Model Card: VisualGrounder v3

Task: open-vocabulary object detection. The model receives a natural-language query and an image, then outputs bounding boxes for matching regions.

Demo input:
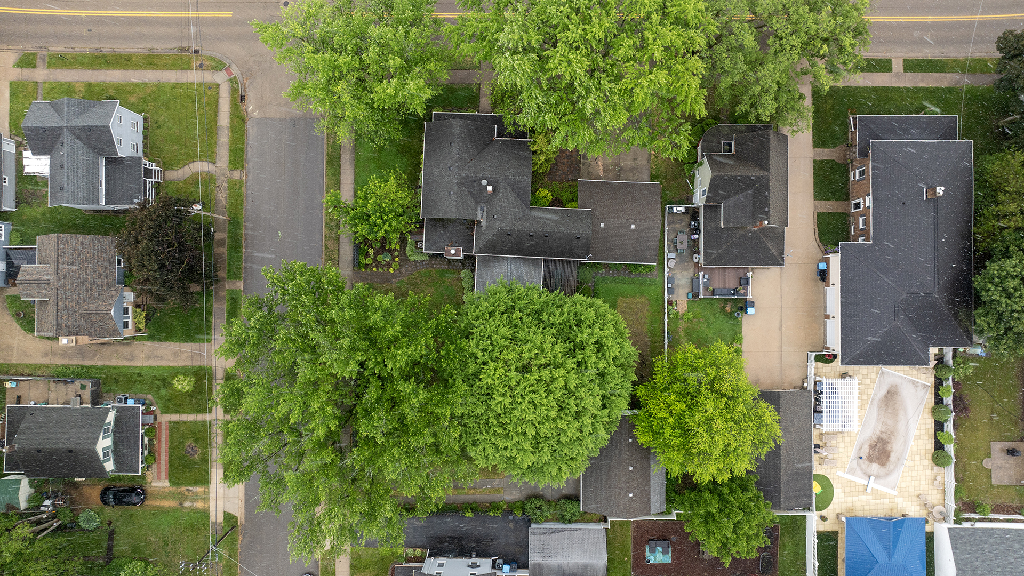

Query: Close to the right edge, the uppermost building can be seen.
[822,115,974,366]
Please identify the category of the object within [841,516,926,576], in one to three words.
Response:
building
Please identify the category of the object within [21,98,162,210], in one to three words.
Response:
house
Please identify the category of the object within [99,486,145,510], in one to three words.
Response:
car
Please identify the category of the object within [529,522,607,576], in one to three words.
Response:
building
